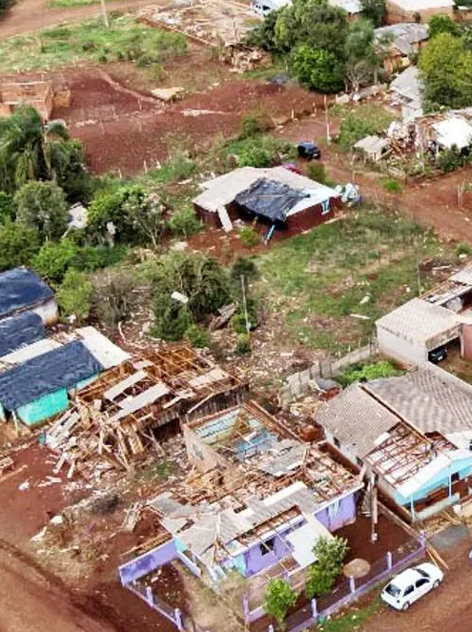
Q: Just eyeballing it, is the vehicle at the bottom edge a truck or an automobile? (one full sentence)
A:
The vehicle at the bottom edge is an automobile.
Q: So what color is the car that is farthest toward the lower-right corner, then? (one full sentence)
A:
The car that is farthest toward the lower-right corner is white.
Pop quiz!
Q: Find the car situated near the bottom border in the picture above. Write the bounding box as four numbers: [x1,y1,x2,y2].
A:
[377,560,447,610]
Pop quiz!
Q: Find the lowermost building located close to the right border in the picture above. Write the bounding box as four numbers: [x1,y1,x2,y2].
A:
[311,371,472,529]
